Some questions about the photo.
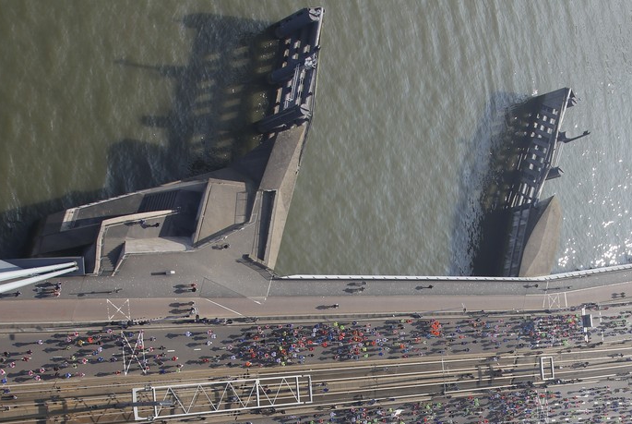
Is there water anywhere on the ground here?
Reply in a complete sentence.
Yes, the picture does contain water.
